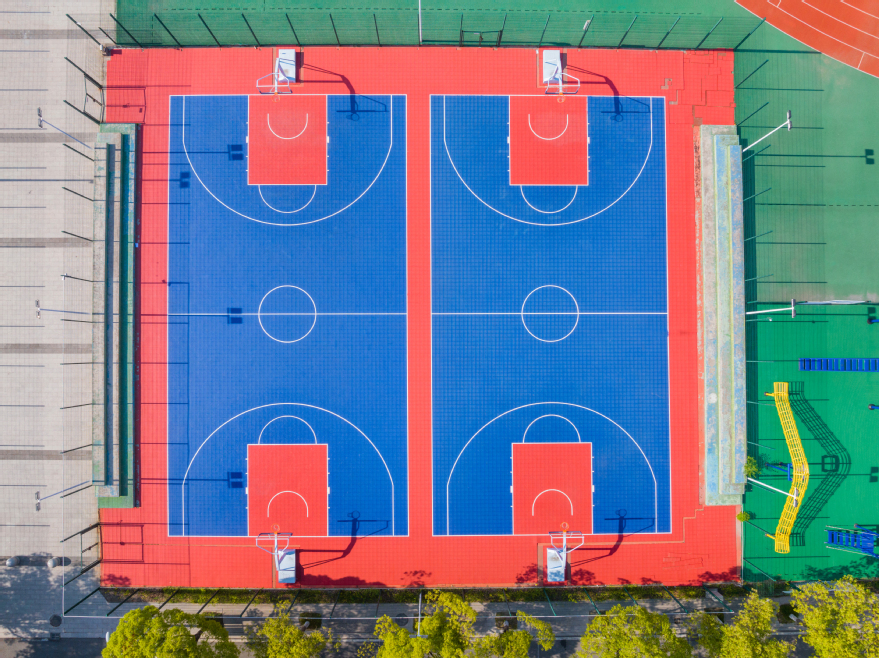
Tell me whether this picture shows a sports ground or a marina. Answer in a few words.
sports ground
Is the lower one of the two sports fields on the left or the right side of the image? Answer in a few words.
right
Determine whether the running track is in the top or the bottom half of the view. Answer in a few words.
top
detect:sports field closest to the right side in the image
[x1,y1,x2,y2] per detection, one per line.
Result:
[738,46,879,303]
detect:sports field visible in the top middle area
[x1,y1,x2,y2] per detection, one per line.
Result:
[116,0,809,46]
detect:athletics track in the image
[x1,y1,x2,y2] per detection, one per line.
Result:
[736,0,879,78]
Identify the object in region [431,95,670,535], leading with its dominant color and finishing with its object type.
blue basketball court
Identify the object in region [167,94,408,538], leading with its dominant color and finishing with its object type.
blue basketball court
